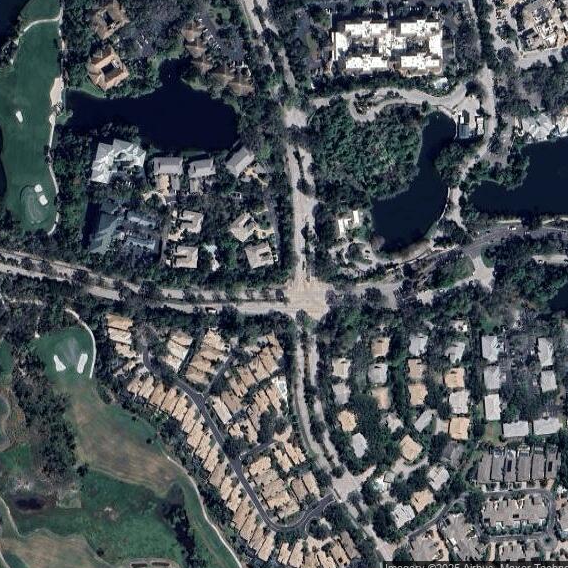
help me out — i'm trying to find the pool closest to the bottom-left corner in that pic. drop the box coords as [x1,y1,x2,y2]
[271,376,289,416]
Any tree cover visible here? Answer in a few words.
Yes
